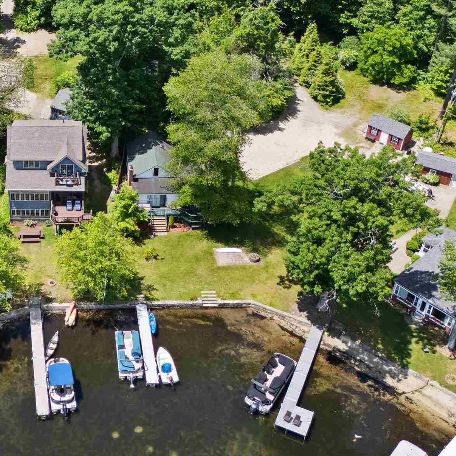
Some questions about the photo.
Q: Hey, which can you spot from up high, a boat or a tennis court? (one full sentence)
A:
This aerial view contains a boat.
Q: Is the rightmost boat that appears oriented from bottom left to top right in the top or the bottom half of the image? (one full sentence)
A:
It is in the bottom half that the rightmost boat that appears oriented from bottom left to top right appears.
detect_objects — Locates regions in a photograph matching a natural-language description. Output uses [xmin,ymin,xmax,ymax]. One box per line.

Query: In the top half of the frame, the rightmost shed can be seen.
[419,144,456,186]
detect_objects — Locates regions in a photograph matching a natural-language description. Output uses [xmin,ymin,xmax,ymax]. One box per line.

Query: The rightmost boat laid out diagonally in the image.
[243,352,297,419]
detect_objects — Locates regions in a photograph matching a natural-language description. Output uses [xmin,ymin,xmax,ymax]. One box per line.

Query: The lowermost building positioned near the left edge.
[6,115,93,236]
